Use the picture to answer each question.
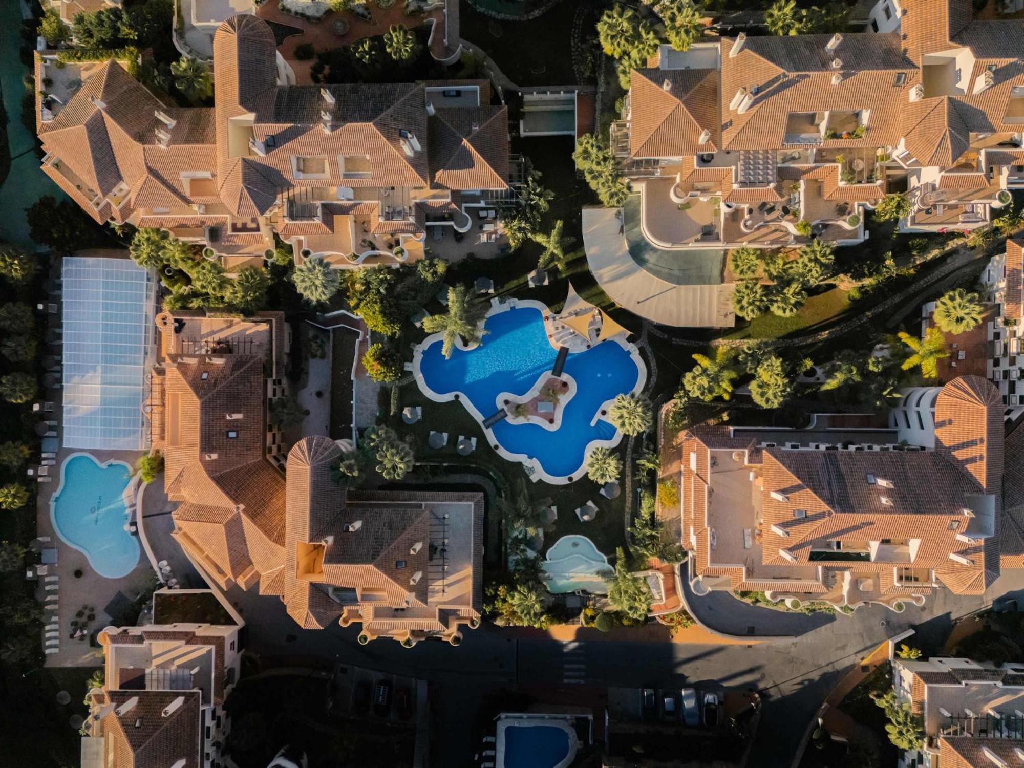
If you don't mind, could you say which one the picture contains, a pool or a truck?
pool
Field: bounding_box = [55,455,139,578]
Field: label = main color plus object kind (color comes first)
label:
blue swimming pool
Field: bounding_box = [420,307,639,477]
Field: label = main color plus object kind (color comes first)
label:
blue swimming pool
